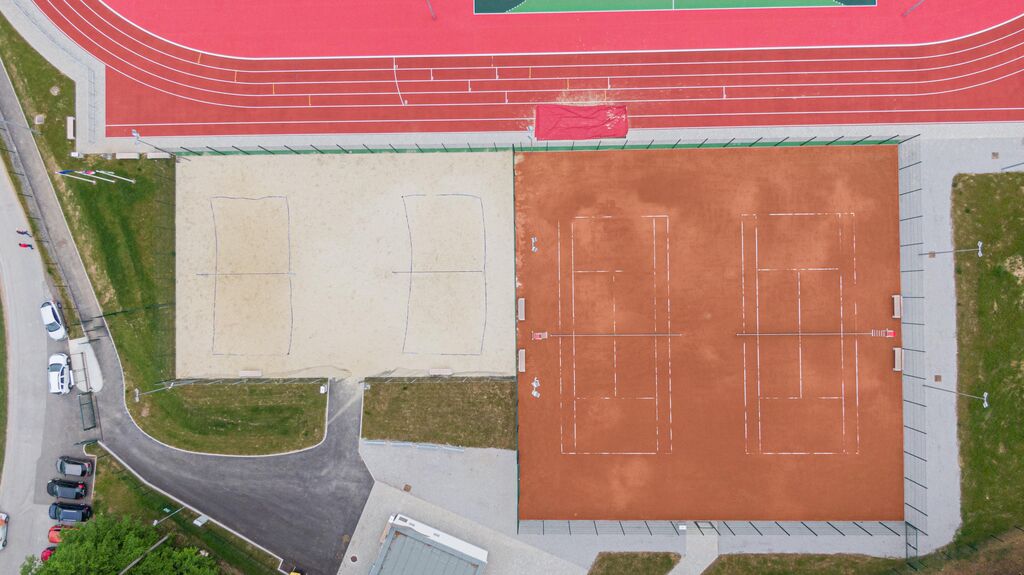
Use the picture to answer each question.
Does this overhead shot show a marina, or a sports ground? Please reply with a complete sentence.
This image shows a sports ground.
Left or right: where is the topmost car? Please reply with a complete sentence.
You can find the topmost car on the left side of the picture.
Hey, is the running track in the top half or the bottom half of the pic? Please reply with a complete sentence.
The running track sits in the top half of the picture.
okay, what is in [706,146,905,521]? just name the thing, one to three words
tennis court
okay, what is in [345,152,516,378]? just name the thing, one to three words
sports court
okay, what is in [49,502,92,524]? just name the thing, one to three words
car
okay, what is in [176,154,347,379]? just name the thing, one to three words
sports court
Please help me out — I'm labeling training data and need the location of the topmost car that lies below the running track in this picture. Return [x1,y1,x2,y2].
[38,301,68,342]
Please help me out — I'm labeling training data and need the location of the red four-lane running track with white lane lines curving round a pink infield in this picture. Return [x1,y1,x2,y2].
[32,0,1024,137]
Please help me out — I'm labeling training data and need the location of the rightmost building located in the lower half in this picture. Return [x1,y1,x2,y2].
[370,513,488,575]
